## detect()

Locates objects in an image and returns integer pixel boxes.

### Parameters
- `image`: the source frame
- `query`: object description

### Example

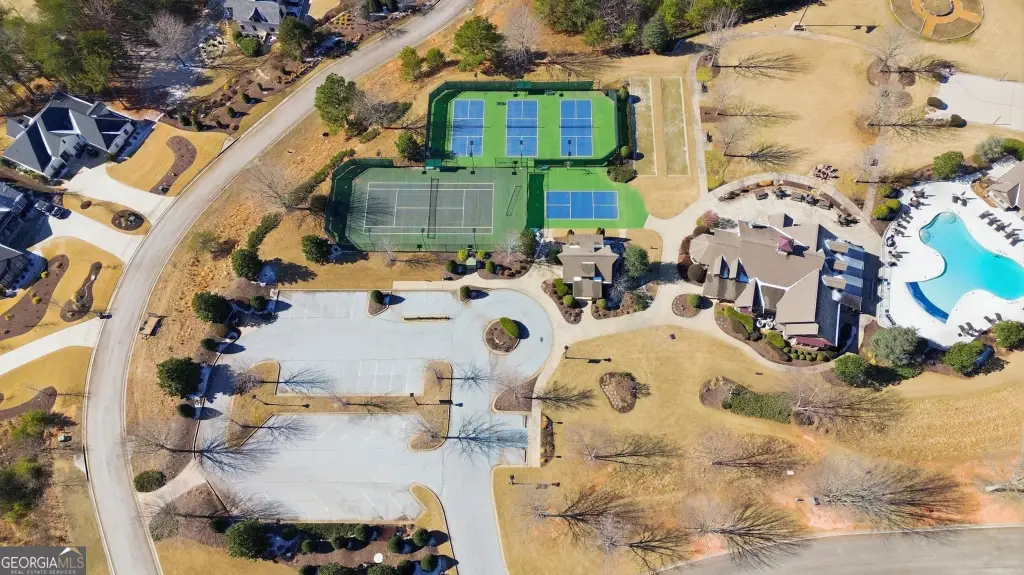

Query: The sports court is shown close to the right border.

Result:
[925,72,1024,131]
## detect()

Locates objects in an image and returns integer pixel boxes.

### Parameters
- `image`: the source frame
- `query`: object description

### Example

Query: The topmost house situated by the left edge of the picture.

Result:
[0,92,144,193]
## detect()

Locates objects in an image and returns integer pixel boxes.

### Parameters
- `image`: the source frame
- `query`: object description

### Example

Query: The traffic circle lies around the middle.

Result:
[481,316,523,355]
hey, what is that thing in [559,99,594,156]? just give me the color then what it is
blue sports court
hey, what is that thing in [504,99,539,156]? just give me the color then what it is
blue sports court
